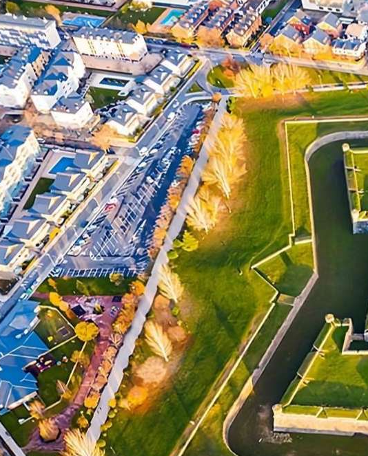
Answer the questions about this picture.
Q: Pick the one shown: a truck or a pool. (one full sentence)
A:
I can see a pool in this picture.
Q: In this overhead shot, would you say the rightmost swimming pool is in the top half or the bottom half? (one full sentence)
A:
You can find the rightmost swimming pool in the top half.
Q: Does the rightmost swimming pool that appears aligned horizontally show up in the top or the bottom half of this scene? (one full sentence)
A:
Seen from above, the rightmost swimming pool that appears aligned horizontally lies in the top half of the view.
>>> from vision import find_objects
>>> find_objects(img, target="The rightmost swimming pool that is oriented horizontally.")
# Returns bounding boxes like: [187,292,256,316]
[87,71,140,94]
